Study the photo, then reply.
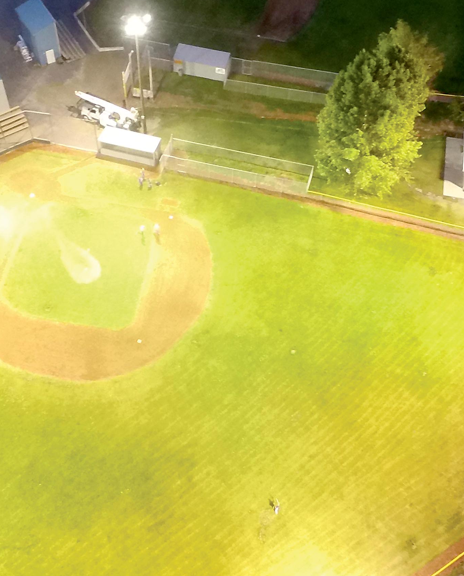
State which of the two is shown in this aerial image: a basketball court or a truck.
truck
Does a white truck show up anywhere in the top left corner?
Yes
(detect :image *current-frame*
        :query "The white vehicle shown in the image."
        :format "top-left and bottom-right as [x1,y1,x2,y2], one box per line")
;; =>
[75,85,141,130]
